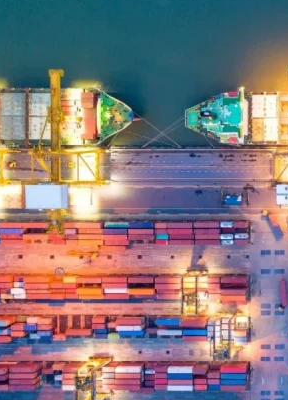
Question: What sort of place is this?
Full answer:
The picture captures a port.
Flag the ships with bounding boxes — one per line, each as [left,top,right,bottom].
[185,88,288,147]
[0,87,139,147]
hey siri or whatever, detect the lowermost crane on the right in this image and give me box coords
[210,312,243,368]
